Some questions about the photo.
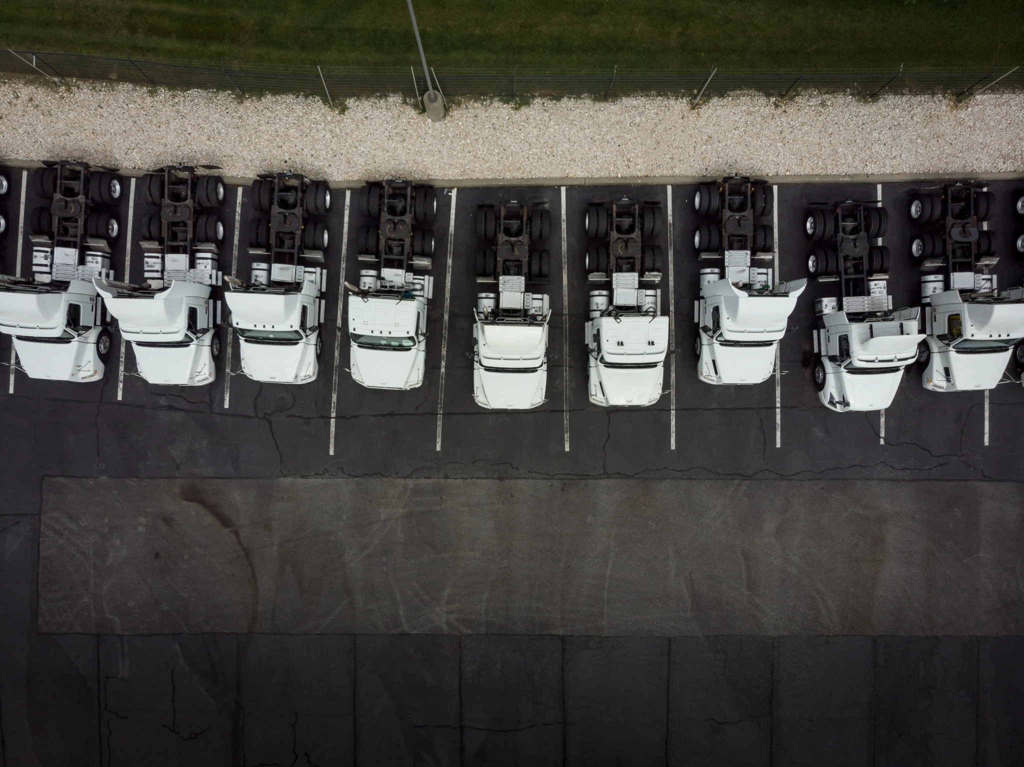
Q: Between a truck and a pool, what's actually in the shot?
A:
truck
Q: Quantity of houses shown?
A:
0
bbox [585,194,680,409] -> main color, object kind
white truck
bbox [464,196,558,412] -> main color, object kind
white truck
